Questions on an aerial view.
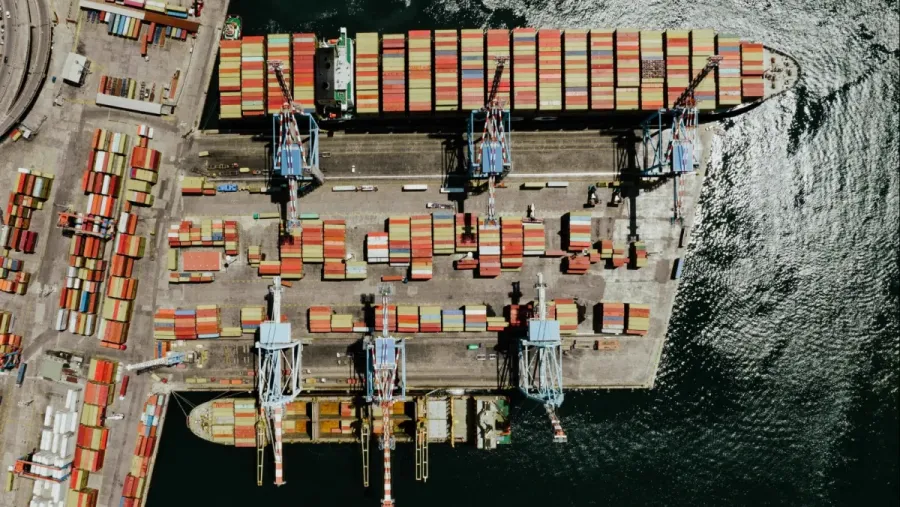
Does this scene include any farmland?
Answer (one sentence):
No, no farmland is visible.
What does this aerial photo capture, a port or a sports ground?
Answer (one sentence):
The area seen from above is a port.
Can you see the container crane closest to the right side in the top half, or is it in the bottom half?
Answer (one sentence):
Seen from above, the container crane closest to the right side lies in the top half of the view.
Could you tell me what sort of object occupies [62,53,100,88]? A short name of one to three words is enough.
building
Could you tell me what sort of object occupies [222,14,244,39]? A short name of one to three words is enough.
boat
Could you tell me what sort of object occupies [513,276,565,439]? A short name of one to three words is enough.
container crane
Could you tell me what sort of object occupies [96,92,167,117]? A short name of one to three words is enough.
shed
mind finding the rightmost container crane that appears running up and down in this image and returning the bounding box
[635,56,722,220]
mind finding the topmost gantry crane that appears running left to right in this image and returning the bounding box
[53,210,120,242]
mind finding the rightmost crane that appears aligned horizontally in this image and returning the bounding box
[122,344,208,372]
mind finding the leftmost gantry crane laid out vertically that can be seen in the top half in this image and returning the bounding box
[267,62,327,224]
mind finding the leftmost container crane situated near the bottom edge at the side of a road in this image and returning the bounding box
[9,446,74,488]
